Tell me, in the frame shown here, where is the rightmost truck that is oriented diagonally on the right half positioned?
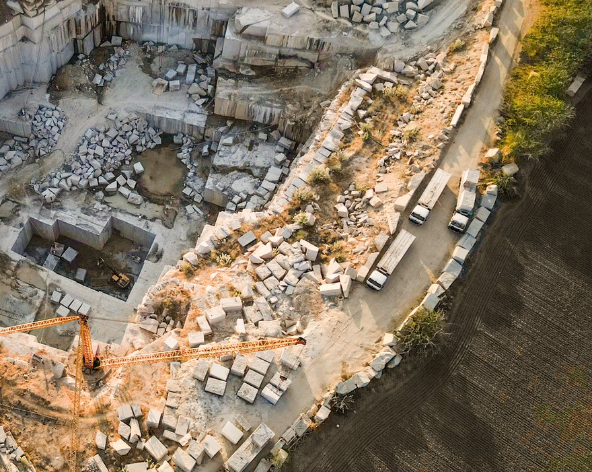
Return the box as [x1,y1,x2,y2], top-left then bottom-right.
[408,168,452,226]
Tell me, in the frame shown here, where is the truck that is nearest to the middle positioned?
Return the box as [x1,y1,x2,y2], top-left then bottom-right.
[365,229,417,292]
